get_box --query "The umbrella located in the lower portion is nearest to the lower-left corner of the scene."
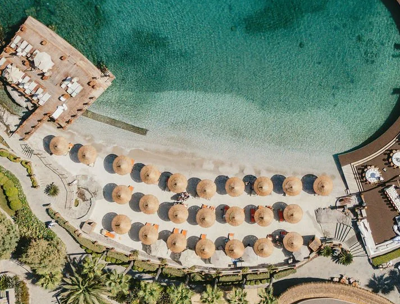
[111,214,131,234]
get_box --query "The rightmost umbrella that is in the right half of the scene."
[312,175,334,195]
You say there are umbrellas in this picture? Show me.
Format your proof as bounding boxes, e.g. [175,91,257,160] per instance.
[254,238,274,258]
[149,238,169,258]
[240,245,261,265]
[139,194,160,214]
[291,243,311,262]
[179,247,199,267]
[78,145,98,165]
[283,204,303,224]
[253,176,273,196]
[312,175,334,195]
[282,176,302,196]
[283,231,303,252]
[210,248,229,268]
[196,208,216,228]
[169,204,189,224]
[166,232,187,254]
[167,173,188,193]
[112,185,131,204]
[225,206,245,225]
[140,164,161,184]
[254,206,274,227]
[196,239,216,259]
[139,224,158,245]
[112,155,133,175]
[111,214,131,234]
[49,136,70,156]
[225,177,245,196]
[225,239,245,259]
[197,179,216,199]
